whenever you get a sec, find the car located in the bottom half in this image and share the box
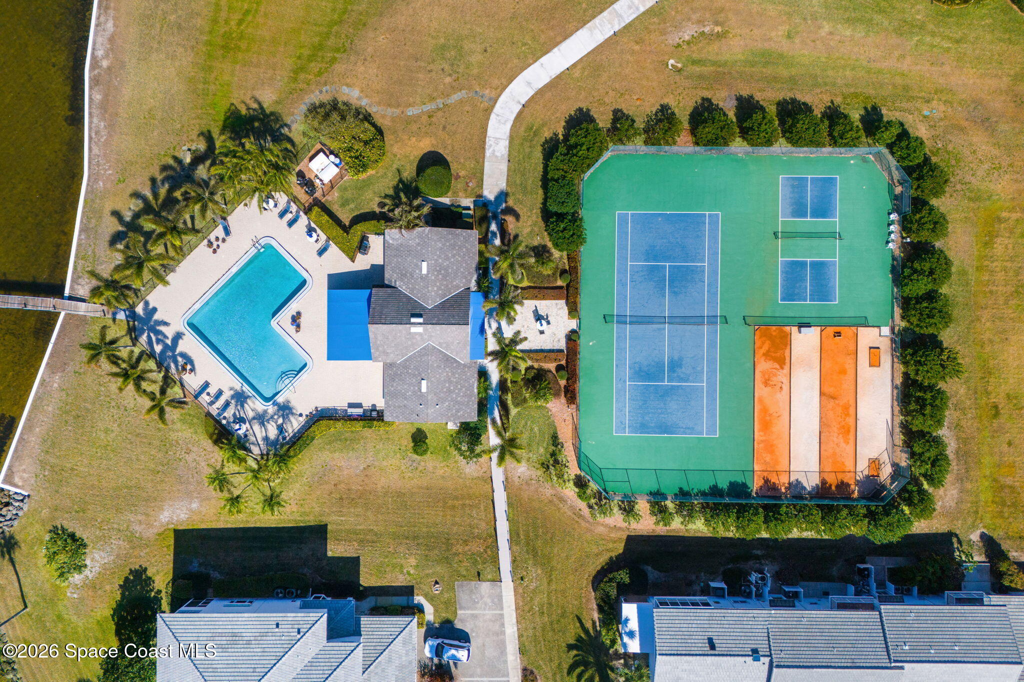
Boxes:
[425,636,470,662]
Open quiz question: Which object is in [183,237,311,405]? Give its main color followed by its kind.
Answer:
blue swimming pool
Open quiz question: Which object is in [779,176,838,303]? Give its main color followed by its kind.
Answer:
blue sports court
